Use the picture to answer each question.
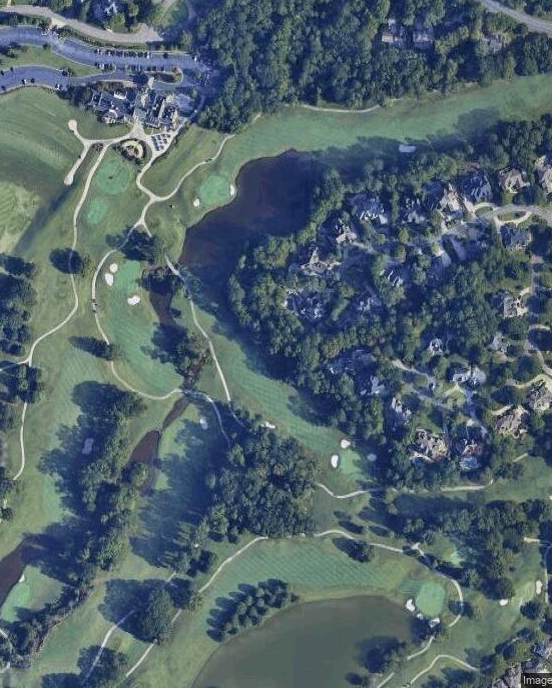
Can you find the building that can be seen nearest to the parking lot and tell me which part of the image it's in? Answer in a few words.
top left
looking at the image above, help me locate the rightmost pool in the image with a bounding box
[464,456,483,471]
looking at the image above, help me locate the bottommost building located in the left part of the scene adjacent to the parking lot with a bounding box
[88,80,181,133]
